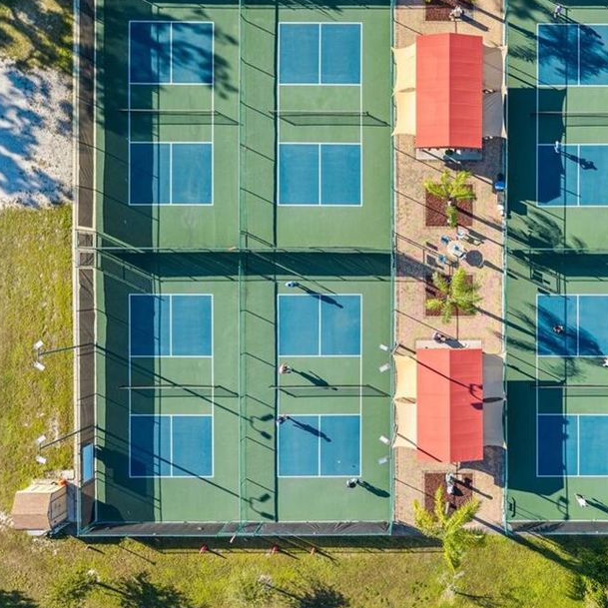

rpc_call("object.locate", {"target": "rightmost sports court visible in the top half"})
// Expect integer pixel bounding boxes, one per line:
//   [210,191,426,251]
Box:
[537,22,608,205]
